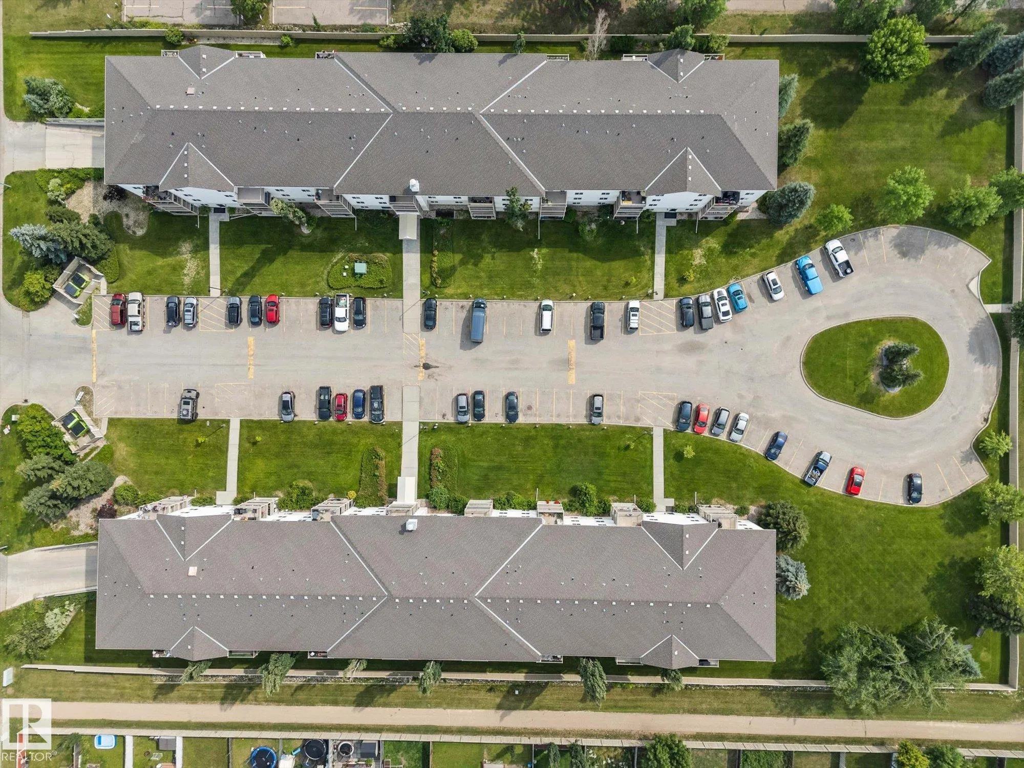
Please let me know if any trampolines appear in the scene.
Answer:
Yes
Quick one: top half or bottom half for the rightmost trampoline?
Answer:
bottom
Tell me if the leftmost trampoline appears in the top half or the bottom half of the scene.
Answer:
bottom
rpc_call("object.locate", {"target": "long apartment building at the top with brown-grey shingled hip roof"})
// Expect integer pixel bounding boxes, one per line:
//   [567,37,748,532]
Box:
[103,44,780,239]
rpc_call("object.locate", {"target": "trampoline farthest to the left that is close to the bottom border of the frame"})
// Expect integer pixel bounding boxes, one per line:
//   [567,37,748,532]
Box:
[248,744,278,768]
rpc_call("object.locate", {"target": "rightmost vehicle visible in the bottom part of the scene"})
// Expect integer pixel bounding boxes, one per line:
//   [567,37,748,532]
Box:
[905,473,923,503]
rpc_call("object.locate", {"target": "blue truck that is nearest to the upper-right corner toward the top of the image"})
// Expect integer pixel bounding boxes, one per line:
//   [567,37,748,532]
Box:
[795,255,824,297]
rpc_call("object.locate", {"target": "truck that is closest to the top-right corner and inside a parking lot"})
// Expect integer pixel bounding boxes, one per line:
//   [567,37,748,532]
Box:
[826,238,855,280]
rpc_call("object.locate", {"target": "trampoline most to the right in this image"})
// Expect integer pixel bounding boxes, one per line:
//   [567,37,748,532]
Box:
[304,740,326,761]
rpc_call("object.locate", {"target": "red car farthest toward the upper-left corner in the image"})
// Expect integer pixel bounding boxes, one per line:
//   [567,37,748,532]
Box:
[109,293,128,325]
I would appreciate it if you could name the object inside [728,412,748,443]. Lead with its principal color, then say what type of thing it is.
white car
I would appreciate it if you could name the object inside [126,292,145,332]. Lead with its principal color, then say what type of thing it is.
white vehicle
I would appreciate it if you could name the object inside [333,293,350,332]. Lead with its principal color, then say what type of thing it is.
white vehicle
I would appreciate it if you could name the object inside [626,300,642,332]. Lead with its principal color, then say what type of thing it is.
white car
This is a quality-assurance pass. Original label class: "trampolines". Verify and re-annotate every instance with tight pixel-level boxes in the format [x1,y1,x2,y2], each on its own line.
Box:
[248,744,278,768]
[304,740,326,761]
